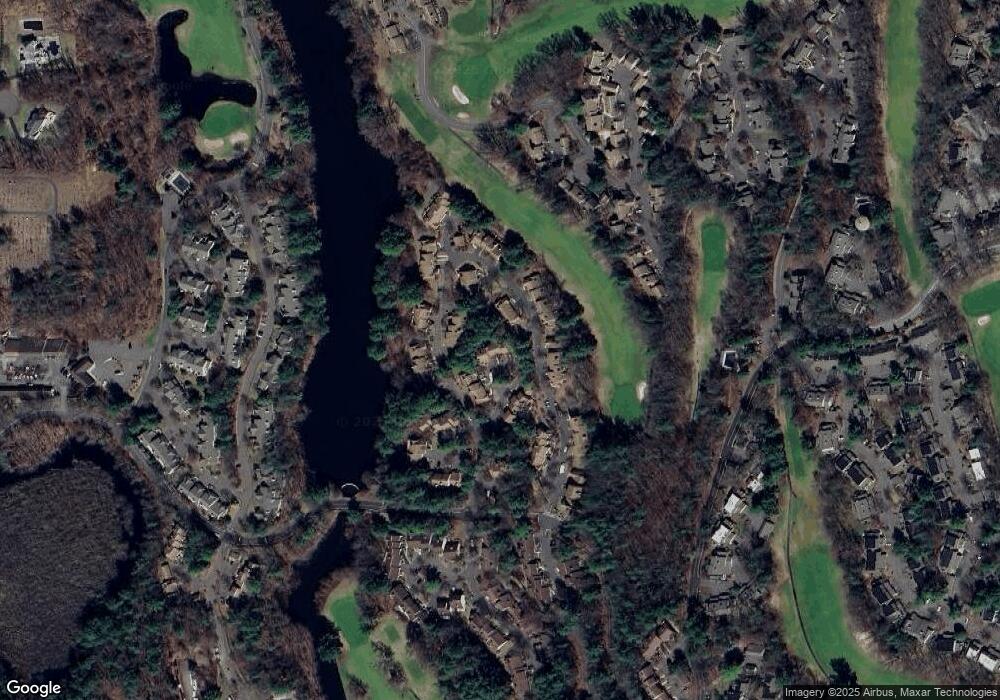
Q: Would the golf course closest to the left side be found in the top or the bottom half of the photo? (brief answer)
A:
top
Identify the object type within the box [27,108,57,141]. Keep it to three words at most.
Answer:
house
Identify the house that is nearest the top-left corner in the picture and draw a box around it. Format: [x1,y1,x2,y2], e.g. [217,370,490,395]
[13,37,60,70]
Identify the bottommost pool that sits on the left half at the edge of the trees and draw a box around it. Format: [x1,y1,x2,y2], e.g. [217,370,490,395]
[169,171,190,193]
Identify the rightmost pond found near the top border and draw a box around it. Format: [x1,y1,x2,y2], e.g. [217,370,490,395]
[155,10,257,121]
